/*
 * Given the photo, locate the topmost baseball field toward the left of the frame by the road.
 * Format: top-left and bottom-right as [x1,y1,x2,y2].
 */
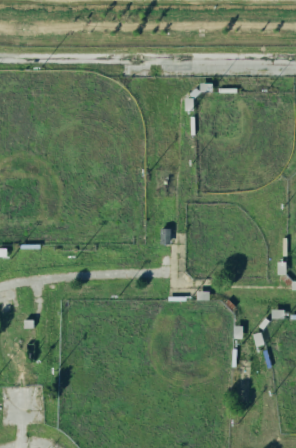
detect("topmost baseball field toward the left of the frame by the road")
[0,70,146,244]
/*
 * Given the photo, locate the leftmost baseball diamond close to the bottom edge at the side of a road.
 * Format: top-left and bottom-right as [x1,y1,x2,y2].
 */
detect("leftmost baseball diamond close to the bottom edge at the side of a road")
[60,299,235,448]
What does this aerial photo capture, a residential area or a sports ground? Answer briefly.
sports ground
